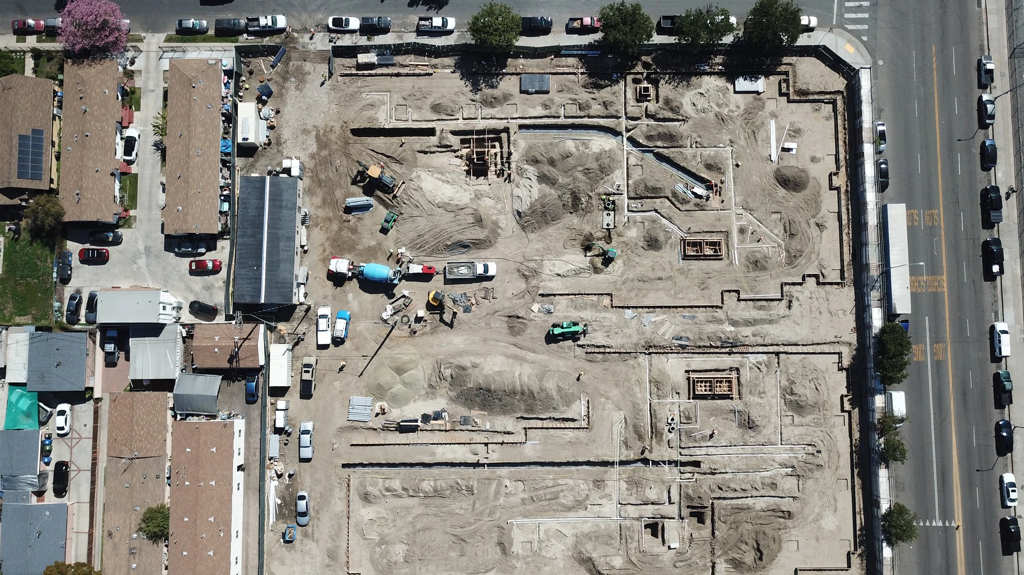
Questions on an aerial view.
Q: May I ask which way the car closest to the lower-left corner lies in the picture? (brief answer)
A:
up and down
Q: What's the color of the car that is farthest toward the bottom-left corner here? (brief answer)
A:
black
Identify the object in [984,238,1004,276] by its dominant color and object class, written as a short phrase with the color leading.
black vehicle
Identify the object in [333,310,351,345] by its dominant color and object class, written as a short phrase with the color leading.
white car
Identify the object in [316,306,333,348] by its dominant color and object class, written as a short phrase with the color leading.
white vehicle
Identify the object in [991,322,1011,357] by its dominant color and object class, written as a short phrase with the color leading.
white car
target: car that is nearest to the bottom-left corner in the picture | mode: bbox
[51,461,72,497]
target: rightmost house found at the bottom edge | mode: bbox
[167,421,244,575]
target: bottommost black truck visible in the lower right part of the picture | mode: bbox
[999,516,1020,553]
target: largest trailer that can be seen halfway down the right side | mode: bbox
[879,203,915,315]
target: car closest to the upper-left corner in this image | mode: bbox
[13,18,45,34]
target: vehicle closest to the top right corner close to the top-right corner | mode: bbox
[977,55,996,87]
